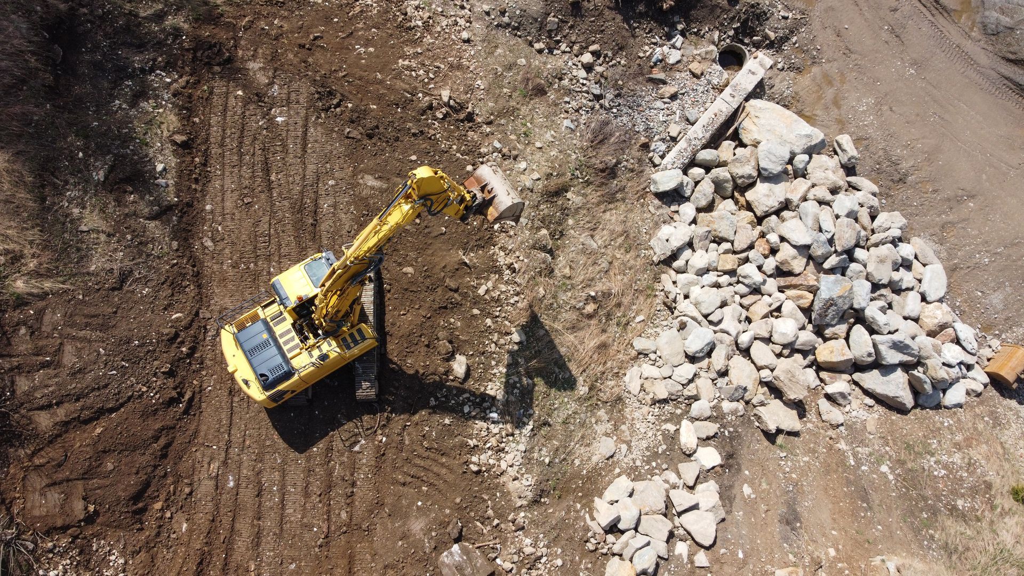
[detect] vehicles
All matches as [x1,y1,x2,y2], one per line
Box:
[214,156,530,405]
